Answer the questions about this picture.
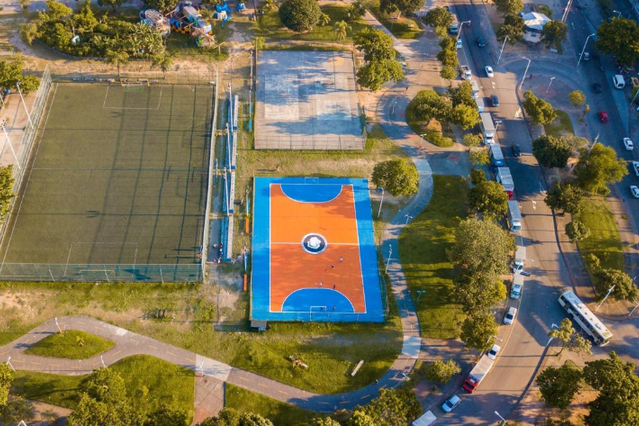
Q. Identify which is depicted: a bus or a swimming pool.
bus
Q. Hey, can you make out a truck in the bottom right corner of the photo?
Yes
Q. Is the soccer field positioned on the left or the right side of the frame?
left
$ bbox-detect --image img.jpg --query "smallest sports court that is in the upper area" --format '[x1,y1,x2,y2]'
[255,50,363,150]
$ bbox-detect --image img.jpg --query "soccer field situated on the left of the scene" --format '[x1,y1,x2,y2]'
[0,82,218,281]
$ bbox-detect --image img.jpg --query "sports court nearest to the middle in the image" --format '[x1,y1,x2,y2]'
[248,176,385,322]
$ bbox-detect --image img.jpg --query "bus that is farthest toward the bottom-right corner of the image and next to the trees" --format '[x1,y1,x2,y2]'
[555,291,611,350]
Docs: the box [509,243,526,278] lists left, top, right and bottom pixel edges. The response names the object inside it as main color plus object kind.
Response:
white vehicle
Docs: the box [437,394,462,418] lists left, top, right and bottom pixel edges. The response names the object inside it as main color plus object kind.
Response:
blue car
